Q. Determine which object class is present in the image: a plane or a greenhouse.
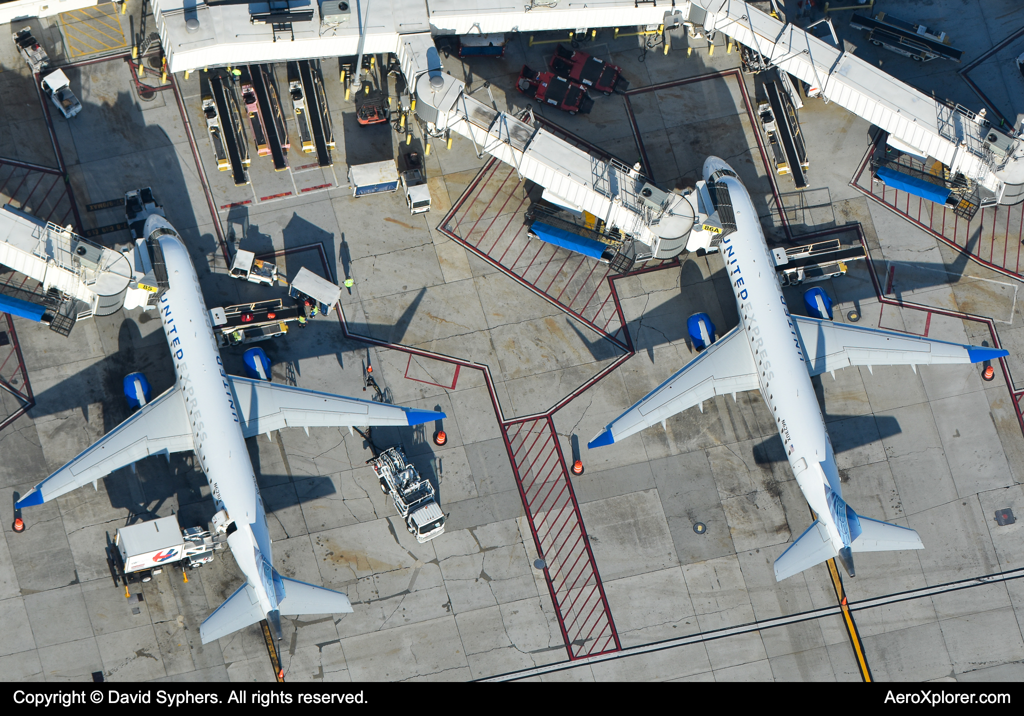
plane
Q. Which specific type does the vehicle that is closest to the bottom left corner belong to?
truck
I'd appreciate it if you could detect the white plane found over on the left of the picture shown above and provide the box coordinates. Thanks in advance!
[14,215,446,645]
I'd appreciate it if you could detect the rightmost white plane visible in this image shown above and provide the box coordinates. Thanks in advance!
[587,158,1009,582]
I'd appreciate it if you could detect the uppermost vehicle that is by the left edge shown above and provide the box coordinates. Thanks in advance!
[9,26,55,76]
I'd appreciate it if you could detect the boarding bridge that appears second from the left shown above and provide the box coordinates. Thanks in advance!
[415,67,736,294]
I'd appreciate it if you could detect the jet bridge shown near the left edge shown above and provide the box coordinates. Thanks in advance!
[0,204,173,356]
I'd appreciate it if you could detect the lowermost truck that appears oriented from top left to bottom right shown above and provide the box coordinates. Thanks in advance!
[366,445,451,543]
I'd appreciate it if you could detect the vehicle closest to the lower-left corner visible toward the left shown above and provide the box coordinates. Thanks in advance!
[99,515,223,603]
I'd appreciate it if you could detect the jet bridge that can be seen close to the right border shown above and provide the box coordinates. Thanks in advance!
[695,0,1024,239]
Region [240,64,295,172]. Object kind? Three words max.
work vehicle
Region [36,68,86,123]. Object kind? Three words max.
work vehicle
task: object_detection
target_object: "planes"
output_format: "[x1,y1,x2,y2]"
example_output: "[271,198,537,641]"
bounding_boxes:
[14,215,446,645]
[587,158,1009,582]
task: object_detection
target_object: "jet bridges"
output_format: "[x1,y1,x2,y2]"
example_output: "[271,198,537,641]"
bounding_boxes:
[695,0,1024,239]
[415,67,736,294]
[0,204,173,356]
